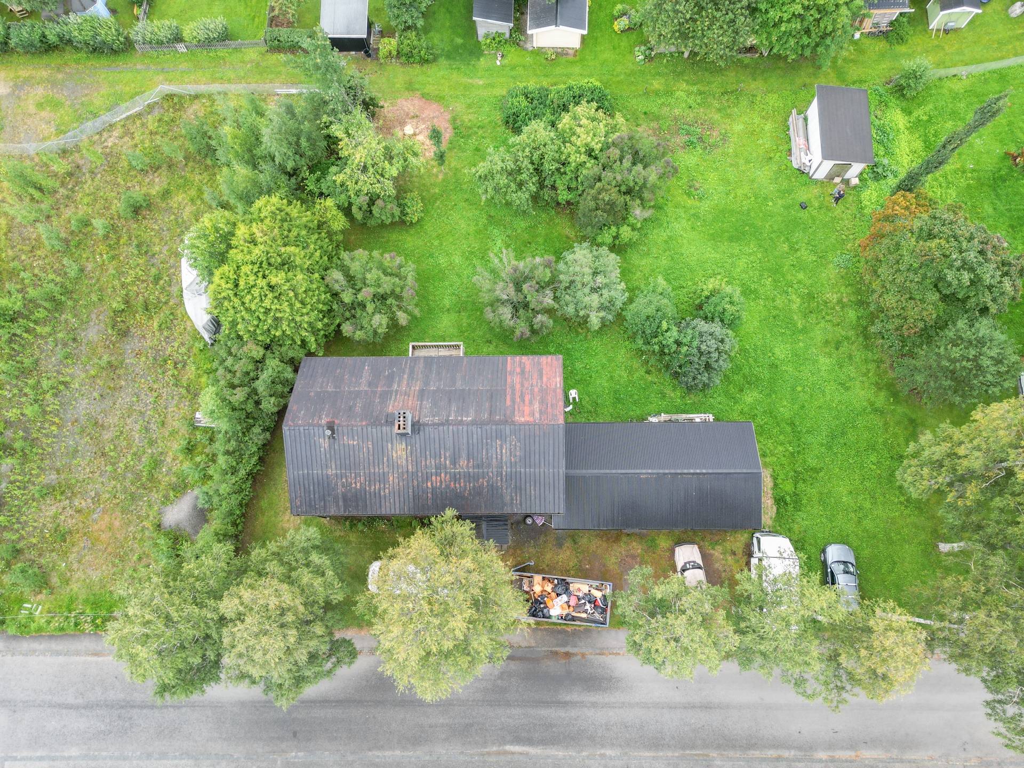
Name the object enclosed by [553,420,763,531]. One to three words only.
building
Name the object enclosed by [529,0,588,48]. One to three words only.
shed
